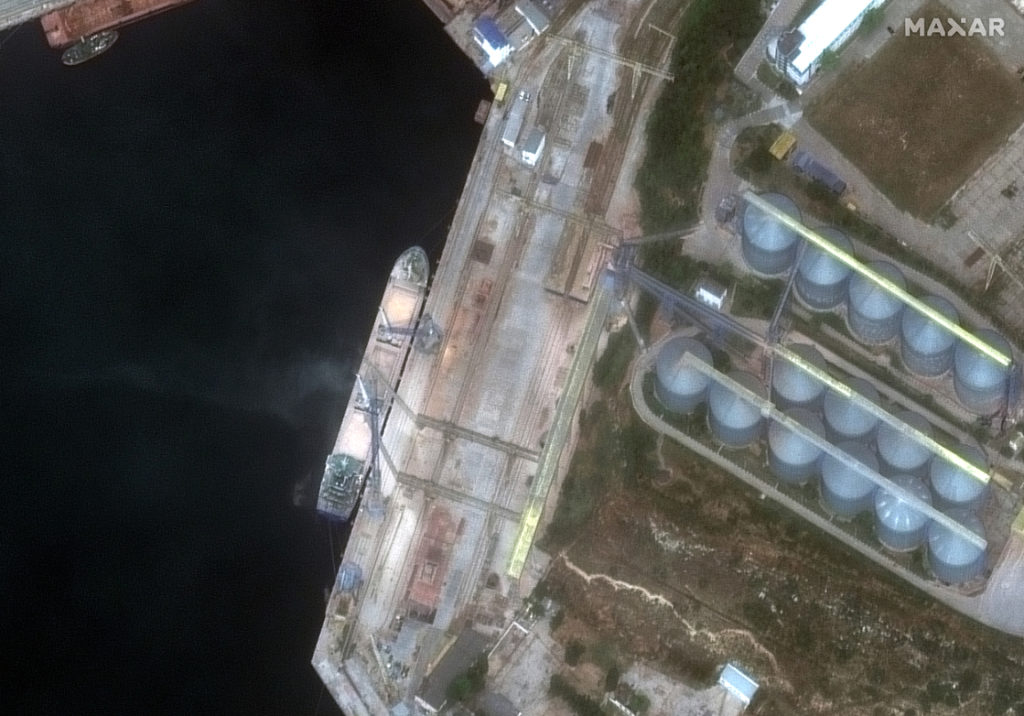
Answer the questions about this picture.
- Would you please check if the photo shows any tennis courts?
No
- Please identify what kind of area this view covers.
port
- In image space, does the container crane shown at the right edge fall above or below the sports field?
below it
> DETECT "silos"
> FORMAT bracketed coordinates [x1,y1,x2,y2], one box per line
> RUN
[926,446,988,516]
[922,509,986,586]
[705,372,766,450]
[896,297,960,378]
[737,194,800,275]
[948,331,1012,411]
[843,263,907,344]
[816,442,879,520]
[791,229,854,310]
[873,413,935,483]
[819,379,881,450]
[763,409,826,487]
[869,476,933,553]
[769,345,828,416]
[651,339,714,417]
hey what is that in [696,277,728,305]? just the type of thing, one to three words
building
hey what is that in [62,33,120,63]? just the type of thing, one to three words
boat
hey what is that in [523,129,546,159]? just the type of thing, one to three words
building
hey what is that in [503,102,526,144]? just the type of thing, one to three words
shed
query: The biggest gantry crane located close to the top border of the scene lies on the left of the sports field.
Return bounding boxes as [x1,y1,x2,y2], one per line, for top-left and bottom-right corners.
[545,32,676,91]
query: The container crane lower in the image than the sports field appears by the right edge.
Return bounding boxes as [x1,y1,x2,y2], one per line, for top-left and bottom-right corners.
[966,230,1024,293]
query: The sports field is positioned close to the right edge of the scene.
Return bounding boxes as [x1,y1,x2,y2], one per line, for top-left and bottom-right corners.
[804,0,1024,220]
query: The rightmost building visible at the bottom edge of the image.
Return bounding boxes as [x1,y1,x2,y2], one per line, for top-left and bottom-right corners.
[720,663,758,702]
